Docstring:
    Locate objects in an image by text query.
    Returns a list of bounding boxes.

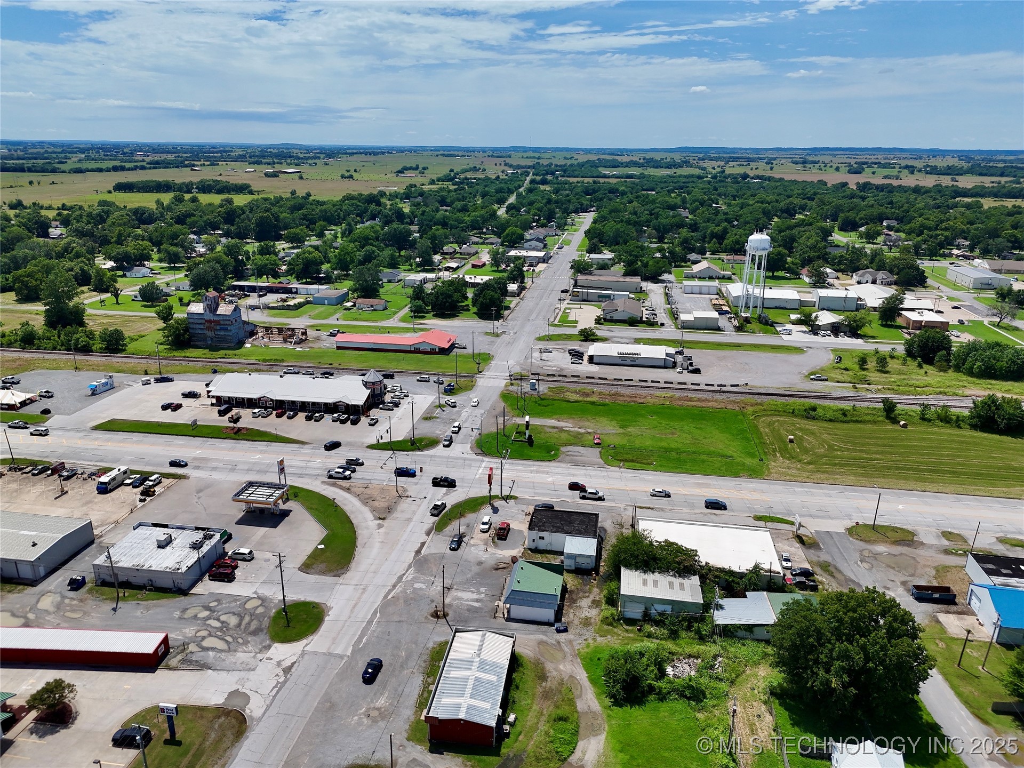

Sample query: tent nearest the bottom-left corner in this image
[0,381,37,410]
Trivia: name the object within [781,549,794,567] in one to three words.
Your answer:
vehicle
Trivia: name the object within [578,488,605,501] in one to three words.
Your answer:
vehicle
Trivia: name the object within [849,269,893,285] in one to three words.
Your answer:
house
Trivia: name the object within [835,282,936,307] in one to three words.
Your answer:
building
